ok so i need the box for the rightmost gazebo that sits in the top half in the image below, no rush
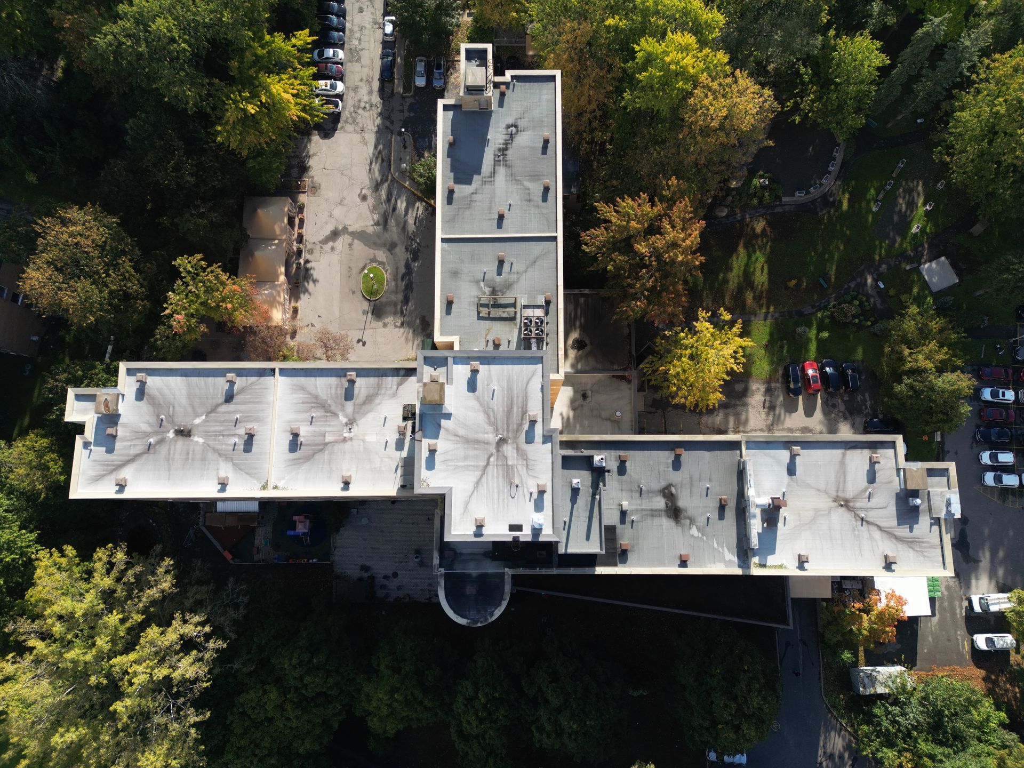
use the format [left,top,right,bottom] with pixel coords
[909,255,960,298]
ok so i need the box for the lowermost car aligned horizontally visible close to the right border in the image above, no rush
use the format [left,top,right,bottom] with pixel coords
[975,633,1016,652]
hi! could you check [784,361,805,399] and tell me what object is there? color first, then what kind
black car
